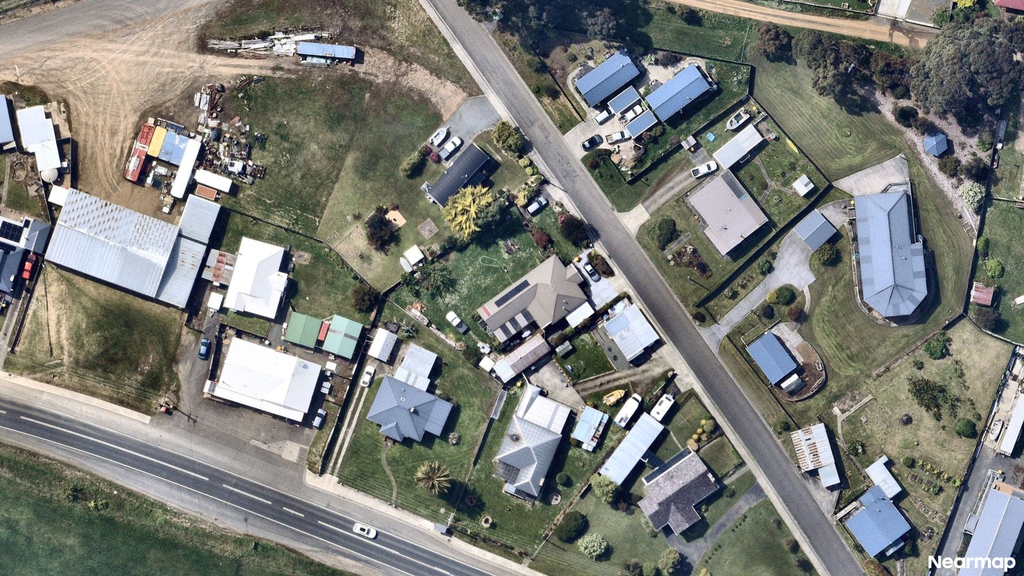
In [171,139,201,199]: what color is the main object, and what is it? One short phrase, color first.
white bus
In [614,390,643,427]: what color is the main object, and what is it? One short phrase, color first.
white camper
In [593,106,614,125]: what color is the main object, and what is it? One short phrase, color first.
white vehicle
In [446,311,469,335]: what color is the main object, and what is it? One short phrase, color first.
white truck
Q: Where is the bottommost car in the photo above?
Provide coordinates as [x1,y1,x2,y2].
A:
[351,523,378,540]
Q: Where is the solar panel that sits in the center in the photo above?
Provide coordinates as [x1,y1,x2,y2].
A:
[494,280,530,308]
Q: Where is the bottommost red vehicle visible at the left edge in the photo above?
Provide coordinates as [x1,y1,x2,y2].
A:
[20,253,37,279]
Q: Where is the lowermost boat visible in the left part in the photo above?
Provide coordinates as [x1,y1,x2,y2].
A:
[400,257,413,273]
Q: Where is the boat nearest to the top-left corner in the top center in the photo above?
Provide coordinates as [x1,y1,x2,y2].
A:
[429,127,447,147]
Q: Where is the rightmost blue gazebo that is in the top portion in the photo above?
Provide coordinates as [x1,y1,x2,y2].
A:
[925,133,948,156]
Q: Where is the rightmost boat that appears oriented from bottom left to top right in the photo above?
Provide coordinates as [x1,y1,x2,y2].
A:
[726,108,750,130]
